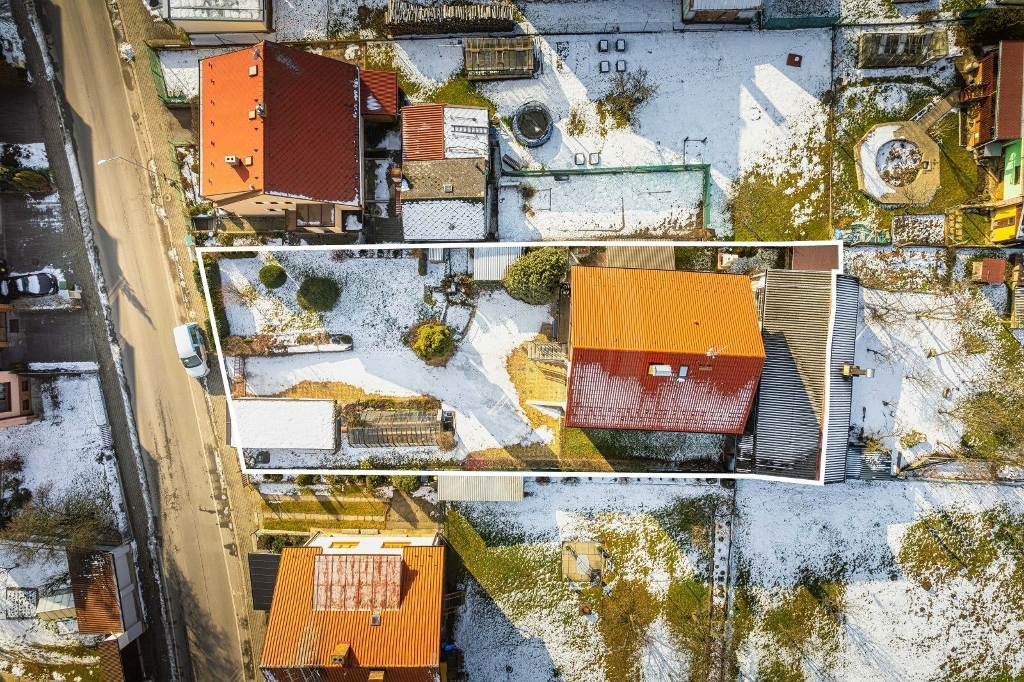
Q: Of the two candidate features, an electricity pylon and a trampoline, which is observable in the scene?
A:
trampoline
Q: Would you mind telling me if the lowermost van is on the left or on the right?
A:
left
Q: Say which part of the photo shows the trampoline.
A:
top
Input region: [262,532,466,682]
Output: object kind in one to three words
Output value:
house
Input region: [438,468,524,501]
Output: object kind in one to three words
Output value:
shed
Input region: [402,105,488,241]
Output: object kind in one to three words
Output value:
shed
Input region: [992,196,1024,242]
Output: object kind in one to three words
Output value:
house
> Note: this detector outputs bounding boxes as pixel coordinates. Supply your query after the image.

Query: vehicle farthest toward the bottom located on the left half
[170,321,213,380]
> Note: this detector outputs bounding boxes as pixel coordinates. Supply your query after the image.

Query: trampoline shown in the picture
[514,96,558,147]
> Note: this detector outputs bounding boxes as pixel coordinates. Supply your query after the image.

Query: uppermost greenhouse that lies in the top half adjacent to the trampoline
[465,38,533,84]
